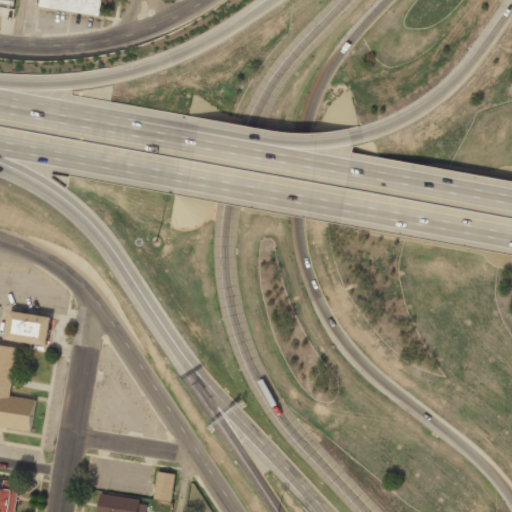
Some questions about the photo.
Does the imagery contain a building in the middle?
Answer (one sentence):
No, no building can be made out in the middle.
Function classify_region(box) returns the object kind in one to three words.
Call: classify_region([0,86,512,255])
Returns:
overpass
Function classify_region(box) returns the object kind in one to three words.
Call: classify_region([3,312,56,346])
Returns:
building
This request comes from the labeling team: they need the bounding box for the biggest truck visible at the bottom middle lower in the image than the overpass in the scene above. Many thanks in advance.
[260,382,282,416]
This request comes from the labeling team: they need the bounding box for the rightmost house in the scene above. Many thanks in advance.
[154,471,176,506]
